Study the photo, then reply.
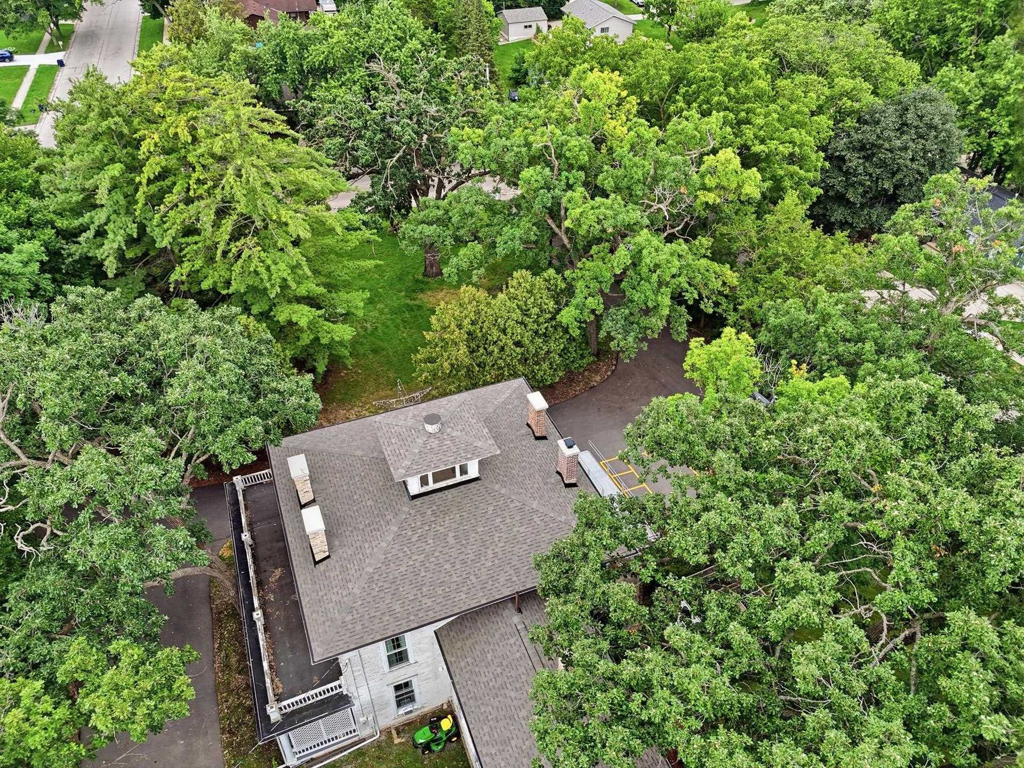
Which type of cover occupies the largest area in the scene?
trees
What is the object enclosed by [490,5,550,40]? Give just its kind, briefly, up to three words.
shed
